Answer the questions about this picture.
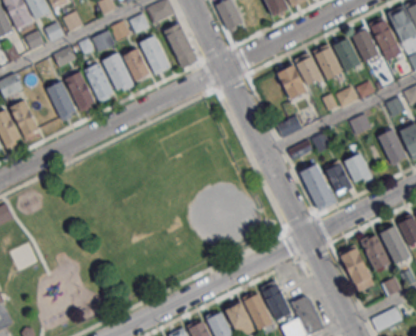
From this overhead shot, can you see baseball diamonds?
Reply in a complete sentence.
Yes, there's a baseball diamond here.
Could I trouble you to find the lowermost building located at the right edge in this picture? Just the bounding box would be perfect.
[371,306,402,332]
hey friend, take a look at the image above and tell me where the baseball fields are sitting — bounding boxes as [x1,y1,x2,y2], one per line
[186,180,263,250]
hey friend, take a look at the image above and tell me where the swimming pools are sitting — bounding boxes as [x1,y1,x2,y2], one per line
[23,73,38,88]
